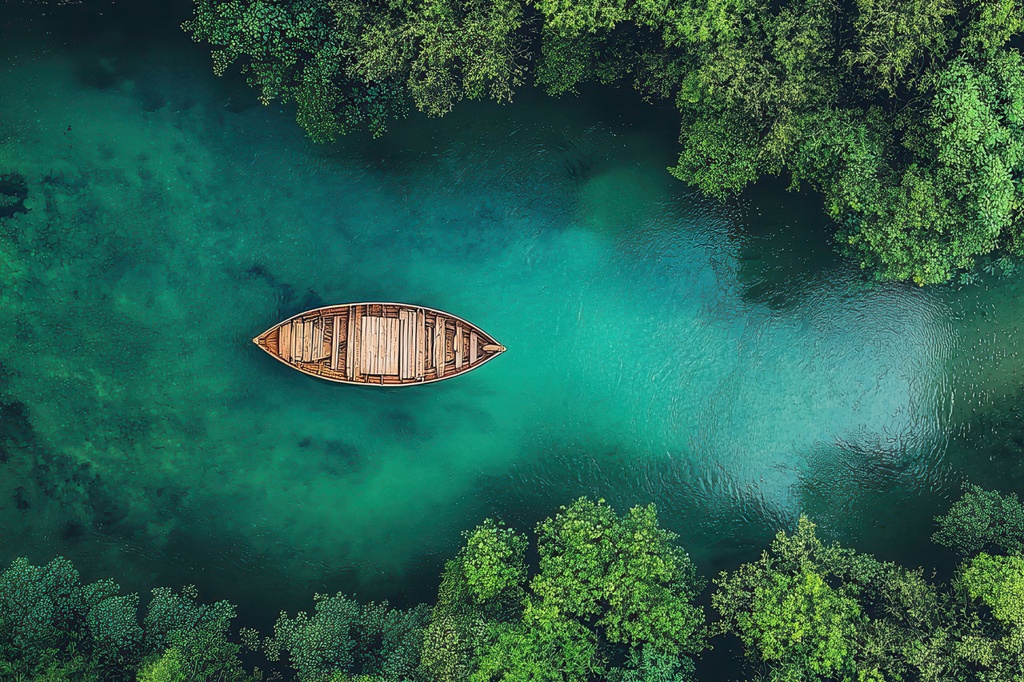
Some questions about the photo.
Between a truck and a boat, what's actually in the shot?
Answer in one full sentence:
Looking from above, you can make out a boat.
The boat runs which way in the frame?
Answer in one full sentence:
In this picture, the boat lies from left to right.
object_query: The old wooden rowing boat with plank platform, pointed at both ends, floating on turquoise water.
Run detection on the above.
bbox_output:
[251,302,508,388]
